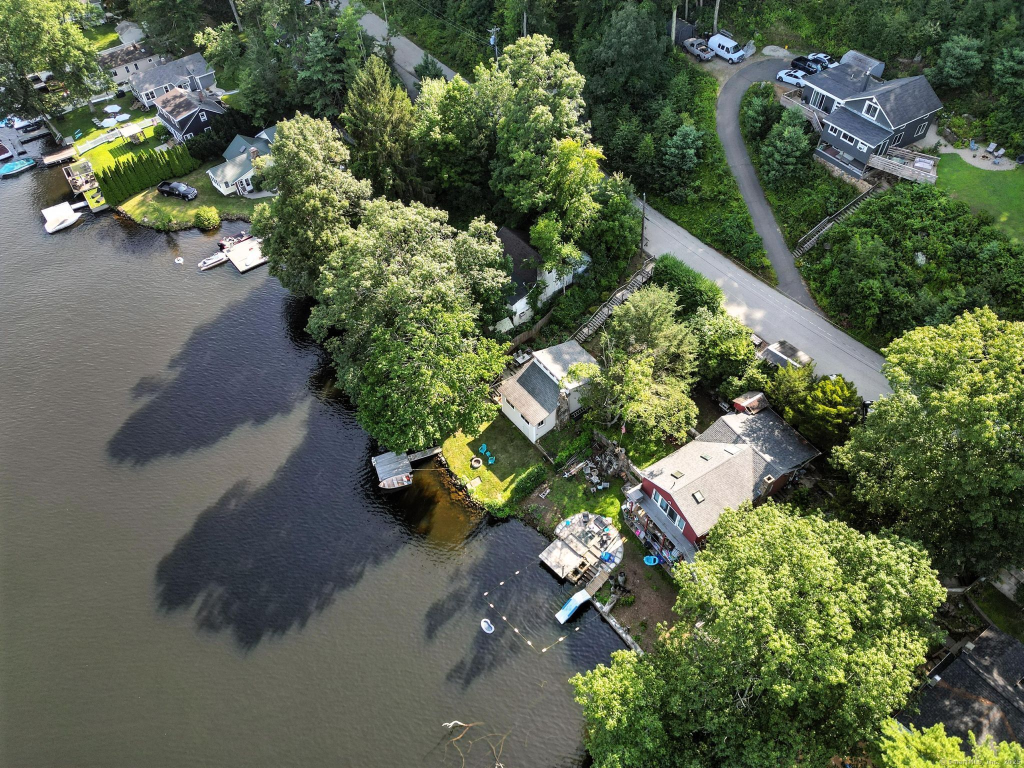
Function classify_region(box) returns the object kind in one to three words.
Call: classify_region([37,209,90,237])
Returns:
boat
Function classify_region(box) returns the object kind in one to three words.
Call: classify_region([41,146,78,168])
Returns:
pier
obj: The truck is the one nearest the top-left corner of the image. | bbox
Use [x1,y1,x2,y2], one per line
[154,181,199,203]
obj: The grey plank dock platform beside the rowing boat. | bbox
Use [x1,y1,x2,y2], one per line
[371,450,411,483]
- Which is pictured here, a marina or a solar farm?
marina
